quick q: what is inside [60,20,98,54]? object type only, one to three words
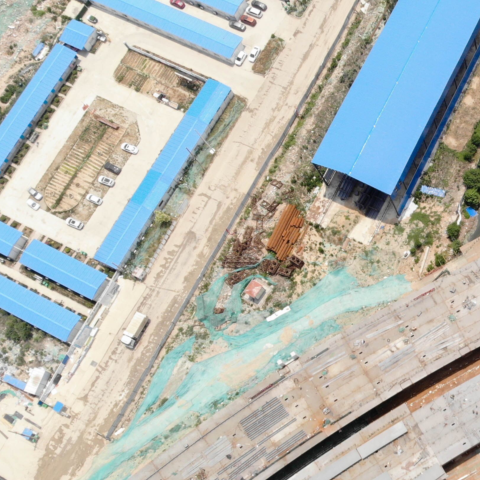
building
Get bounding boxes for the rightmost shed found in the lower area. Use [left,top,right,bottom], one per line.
[241,277,273,307]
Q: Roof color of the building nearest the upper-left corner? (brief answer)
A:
blue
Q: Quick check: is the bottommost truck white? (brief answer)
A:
Yes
